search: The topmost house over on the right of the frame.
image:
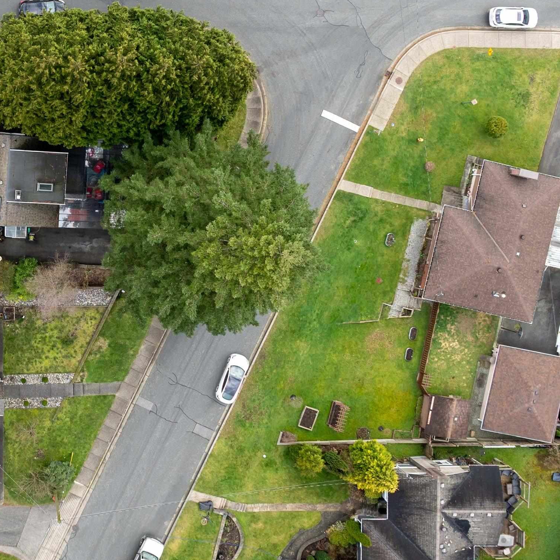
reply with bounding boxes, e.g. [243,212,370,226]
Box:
[414,159,560,324]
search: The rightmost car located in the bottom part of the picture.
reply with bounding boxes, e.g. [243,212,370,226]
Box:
[214,352,249,404]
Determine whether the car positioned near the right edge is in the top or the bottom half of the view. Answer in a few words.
top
